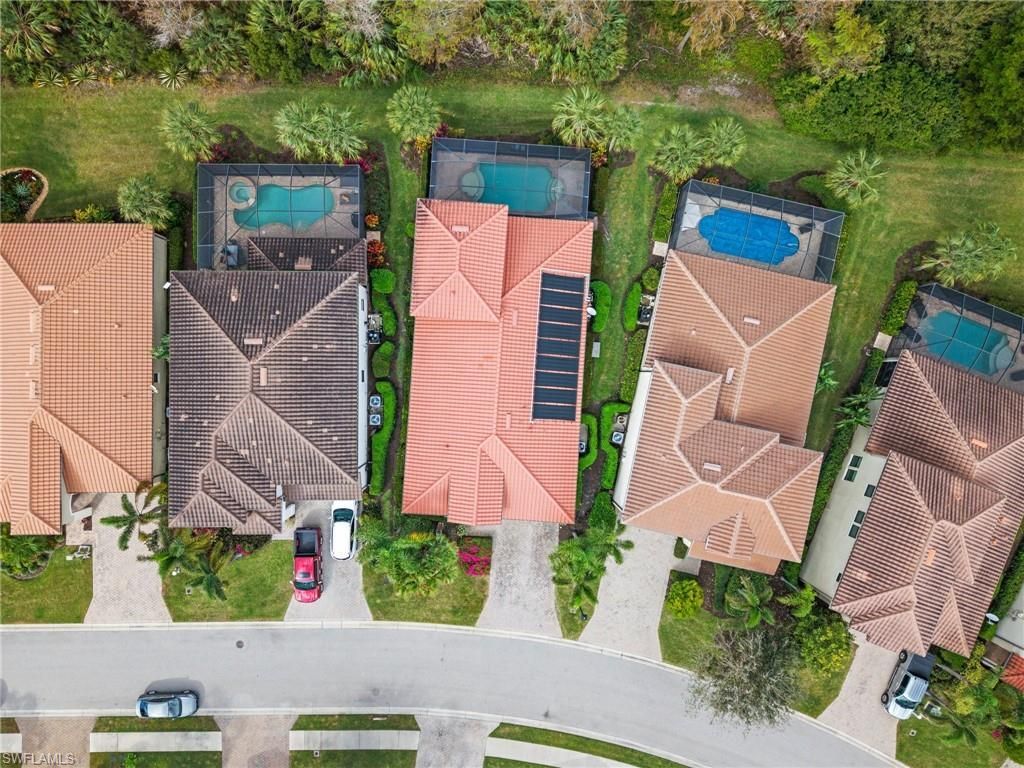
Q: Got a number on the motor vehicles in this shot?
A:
4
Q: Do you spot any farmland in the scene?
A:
No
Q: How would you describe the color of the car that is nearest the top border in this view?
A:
white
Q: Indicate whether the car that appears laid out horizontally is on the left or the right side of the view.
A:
left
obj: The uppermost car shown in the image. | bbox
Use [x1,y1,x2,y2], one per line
[326,496,360,560]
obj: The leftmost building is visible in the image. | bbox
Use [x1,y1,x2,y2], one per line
[0,222,167,537]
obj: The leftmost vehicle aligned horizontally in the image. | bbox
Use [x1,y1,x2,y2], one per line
[137,686,202,718]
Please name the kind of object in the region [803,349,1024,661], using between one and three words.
house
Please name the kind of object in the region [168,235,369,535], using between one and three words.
house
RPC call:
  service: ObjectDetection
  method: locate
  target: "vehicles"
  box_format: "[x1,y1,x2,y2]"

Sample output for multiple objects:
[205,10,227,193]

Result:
[877,645,946,721]
[137,686,202,718]
[326,496,360,560]
[290,526,323,603]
